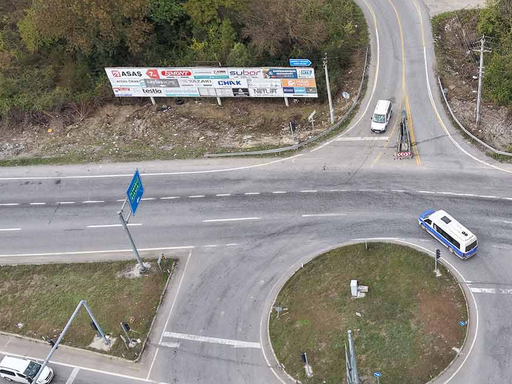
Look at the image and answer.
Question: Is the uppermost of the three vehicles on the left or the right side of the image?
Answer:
right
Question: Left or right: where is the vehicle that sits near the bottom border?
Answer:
left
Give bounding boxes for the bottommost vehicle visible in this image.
[0,353,55,384]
